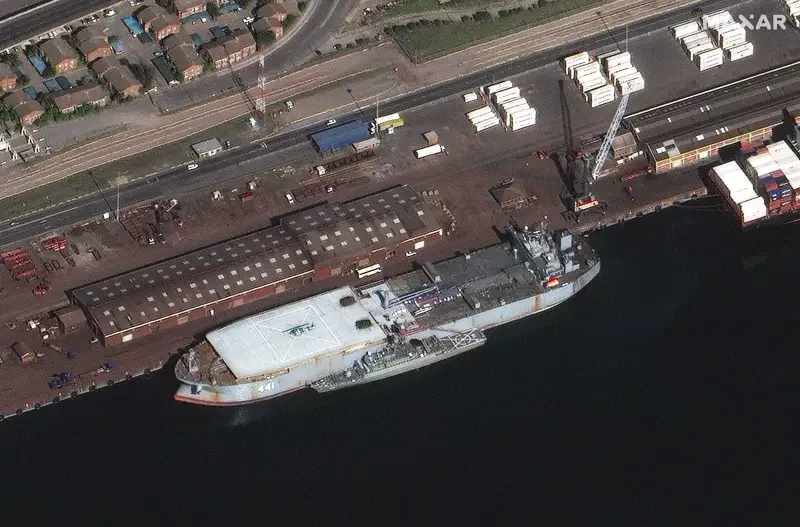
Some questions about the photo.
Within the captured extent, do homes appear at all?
Yes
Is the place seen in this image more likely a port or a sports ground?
port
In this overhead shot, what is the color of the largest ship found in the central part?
white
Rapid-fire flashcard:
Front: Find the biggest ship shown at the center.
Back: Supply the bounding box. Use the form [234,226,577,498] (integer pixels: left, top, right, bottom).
[170,209,598,405]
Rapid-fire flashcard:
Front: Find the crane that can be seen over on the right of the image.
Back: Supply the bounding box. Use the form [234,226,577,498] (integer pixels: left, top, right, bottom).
[564,91,630,221]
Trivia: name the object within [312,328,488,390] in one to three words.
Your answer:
ship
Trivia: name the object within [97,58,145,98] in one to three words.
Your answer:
house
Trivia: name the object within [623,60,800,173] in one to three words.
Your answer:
shed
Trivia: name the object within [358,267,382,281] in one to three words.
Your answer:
vehicle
